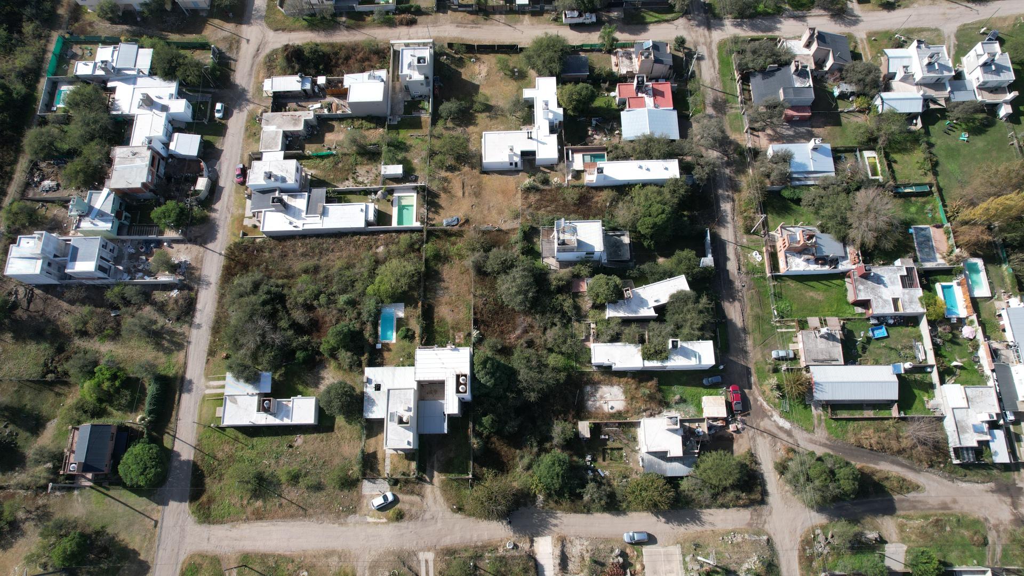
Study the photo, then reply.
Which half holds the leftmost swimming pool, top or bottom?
top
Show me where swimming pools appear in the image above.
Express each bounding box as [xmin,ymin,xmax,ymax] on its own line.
[392,189,417,226]
[377,303,404,343]
[964,258,991,297]
[868,325,887,338]
[862,151,883,182]
[574,152,607,170]
[935,278,971,318]
[911,225,947,262]
[53,83,85,108]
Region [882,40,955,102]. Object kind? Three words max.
house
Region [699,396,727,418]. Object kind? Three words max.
shed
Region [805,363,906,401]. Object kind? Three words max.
barn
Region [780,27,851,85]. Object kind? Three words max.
house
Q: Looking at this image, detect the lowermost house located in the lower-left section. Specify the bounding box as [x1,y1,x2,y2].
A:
[64,425,136,474]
